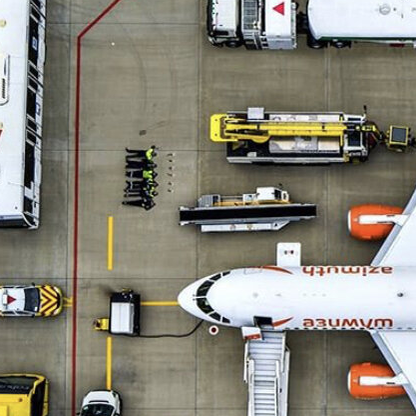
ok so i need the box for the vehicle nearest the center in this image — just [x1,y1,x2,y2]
[180,182,318,239]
